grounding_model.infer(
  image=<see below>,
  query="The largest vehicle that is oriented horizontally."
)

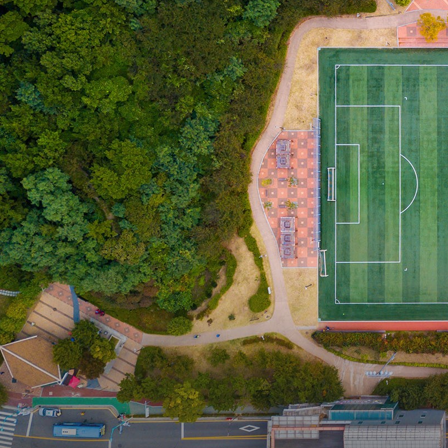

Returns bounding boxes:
[50,421,108,437]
